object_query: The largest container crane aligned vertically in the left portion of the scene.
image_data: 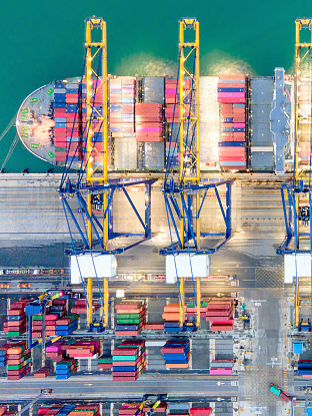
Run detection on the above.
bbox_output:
[54,18,164,332]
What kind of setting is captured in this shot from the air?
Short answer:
port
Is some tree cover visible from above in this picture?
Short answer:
No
